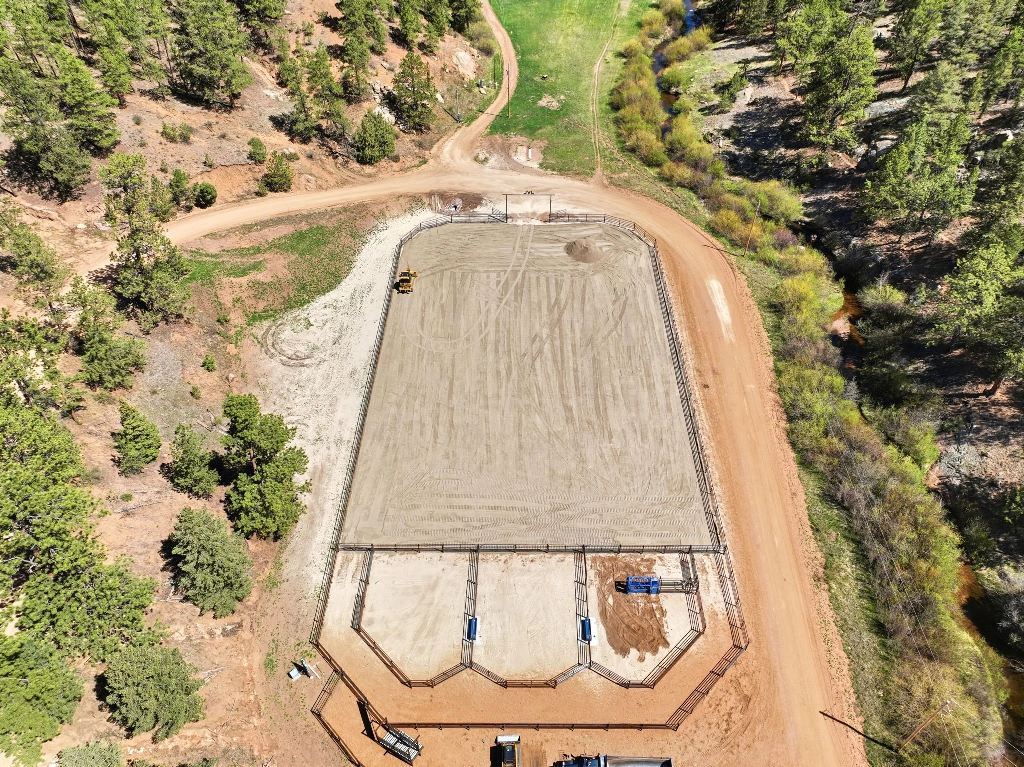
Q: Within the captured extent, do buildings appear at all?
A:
No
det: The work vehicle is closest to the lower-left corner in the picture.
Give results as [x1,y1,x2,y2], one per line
[497,738,521,767]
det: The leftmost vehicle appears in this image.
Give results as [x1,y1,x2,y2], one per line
[401,264,424,290]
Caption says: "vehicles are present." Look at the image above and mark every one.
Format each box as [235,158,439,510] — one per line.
[559,750,674,767]
[401,264,424,290]
[497,738,521,767]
